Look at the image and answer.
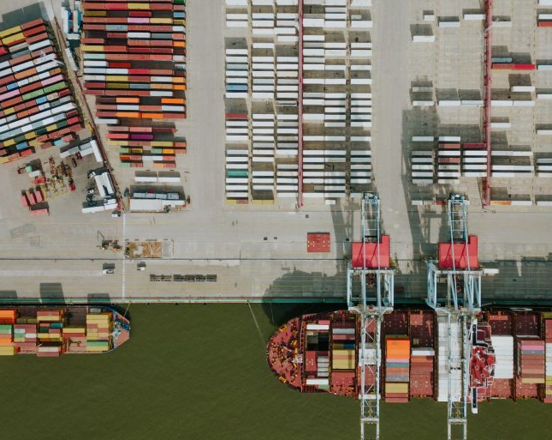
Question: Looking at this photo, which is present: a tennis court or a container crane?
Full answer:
There is a container crane in the scene.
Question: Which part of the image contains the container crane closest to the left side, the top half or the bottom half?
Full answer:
The container crane closest to the left side is in the bottom half of the image.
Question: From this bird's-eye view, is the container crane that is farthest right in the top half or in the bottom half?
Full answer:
The bottom half of the photo is where the container crane that is farthest right is.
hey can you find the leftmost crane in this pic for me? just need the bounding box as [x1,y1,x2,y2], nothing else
[338,193,397,440]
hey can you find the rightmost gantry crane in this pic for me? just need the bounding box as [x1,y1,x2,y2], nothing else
[416,194,499,440]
